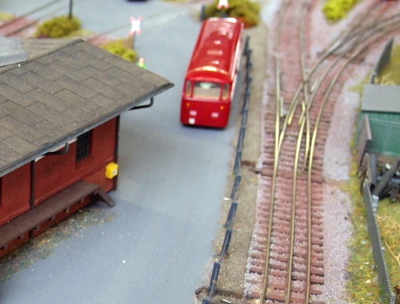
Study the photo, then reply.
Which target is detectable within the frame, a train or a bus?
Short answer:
bus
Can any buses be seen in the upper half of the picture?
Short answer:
Yes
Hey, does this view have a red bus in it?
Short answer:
Yes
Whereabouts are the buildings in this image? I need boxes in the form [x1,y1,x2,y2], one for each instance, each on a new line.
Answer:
[353,78,400,150]
[0,24,174,259]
